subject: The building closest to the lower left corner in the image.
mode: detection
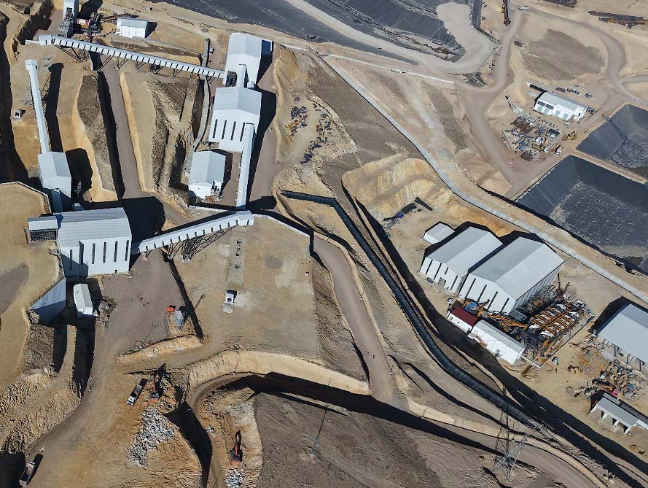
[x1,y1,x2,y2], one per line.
[72,285,93,318]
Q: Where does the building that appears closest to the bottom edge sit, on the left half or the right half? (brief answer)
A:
right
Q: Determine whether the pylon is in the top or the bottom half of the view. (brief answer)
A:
bottom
